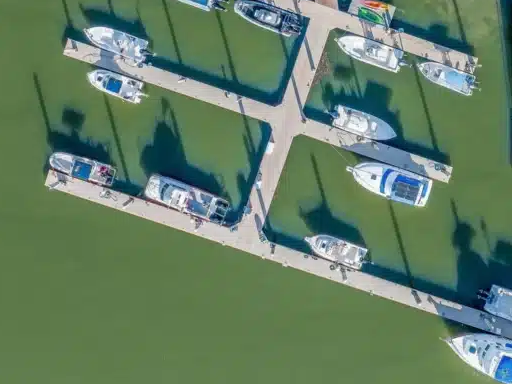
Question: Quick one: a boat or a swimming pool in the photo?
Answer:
boat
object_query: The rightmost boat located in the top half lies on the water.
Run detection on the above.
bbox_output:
[419,49,490,103]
